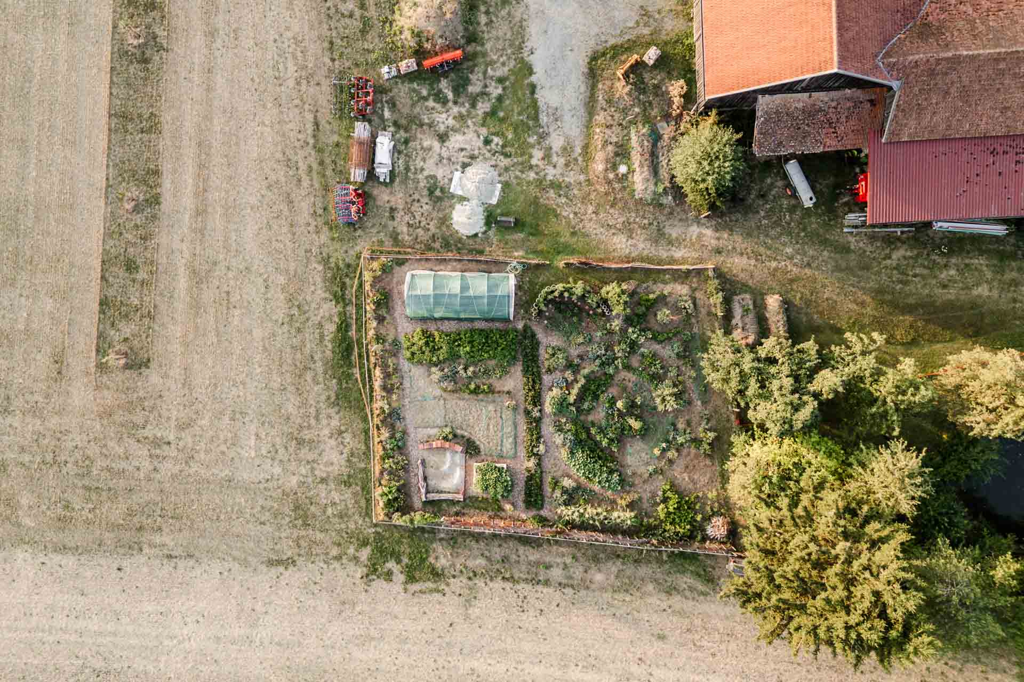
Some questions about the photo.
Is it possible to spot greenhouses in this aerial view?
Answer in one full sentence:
Yes, there is a greenhouse in the image.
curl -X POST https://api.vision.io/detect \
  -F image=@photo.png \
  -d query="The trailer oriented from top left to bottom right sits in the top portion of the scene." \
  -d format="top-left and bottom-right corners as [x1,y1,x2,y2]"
[775,154,817,209]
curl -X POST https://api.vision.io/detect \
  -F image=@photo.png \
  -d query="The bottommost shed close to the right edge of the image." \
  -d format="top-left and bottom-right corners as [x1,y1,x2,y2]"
[851,123,1024,226]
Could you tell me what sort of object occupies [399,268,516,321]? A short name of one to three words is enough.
greenhouse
